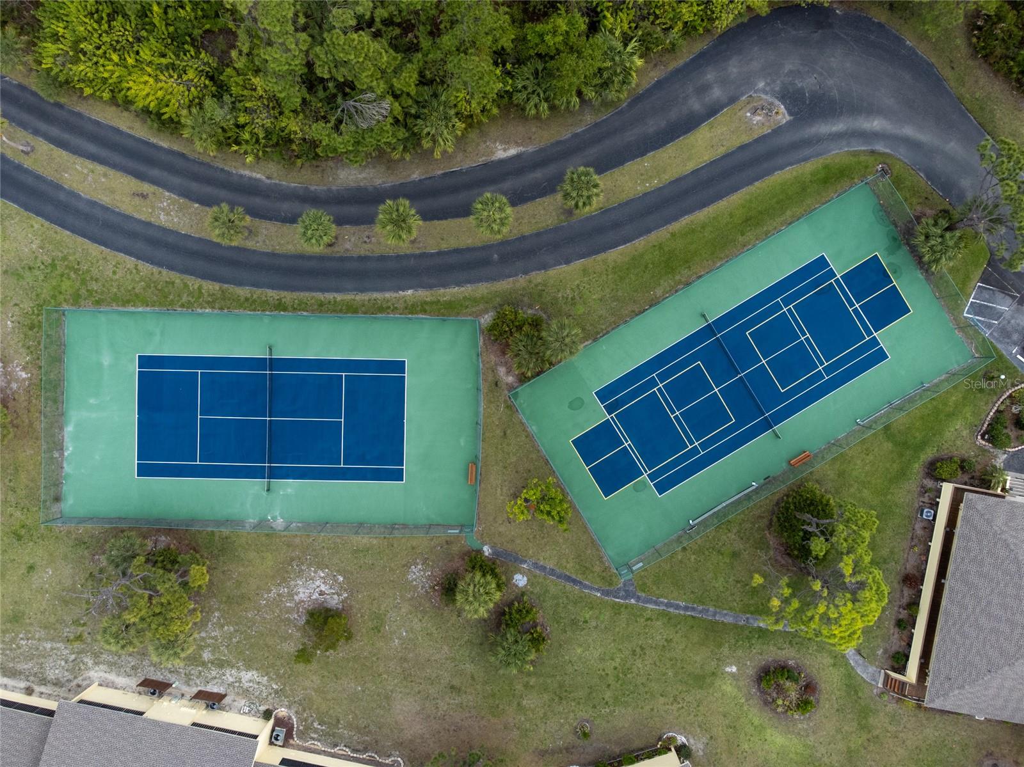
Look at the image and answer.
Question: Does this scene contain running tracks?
No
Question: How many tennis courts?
2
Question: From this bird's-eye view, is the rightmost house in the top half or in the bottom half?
bottom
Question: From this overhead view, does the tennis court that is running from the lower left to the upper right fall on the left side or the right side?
right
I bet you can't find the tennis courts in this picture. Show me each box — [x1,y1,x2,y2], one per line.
[511,182,973,571]
[62,311,483,525]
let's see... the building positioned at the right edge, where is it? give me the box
[879,469,1024,724]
